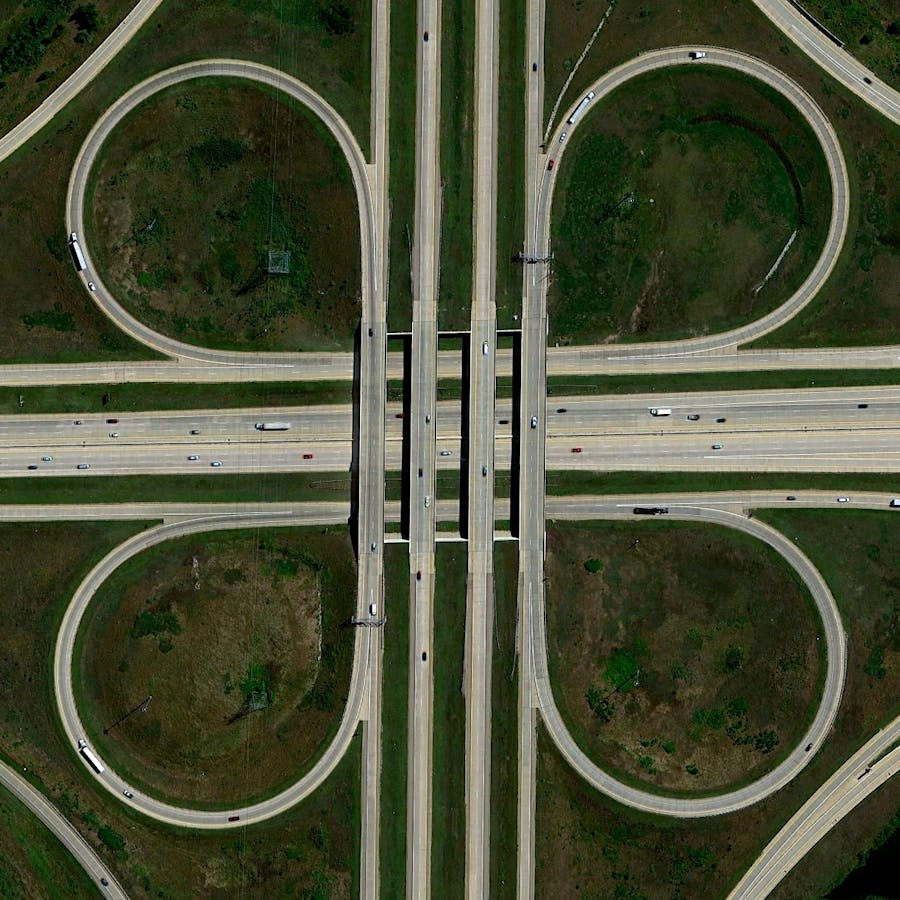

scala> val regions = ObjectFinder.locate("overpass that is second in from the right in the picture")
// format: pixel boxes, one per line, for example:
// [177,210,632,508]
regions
[468,320,497,552]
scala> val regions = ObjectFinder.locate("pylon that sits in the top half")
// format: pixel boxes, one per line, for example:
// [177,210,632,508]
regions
[257,250,294,272]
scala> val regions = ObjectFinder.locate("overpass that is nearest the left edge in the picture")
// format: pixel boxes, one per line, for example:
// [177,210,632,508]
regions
[358,323,387,554]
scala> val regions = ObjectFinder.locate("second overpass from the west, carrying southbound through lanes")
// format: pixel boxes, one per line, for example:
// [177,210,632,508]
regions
[409,322,438,553]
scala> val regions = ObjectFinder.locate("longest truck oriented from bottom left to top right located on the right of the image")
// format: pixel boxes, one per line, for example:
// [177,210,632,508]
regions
[567,91,594,124]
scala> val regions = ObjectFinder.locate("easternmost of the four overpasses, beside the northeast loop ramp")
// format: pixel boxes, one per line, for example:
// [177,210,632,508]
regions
[519,318,547,551]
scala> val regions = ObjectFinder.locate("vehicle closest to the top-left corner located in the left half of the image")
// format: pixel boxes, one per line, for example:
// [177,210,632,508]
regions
[71,233,86,272]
